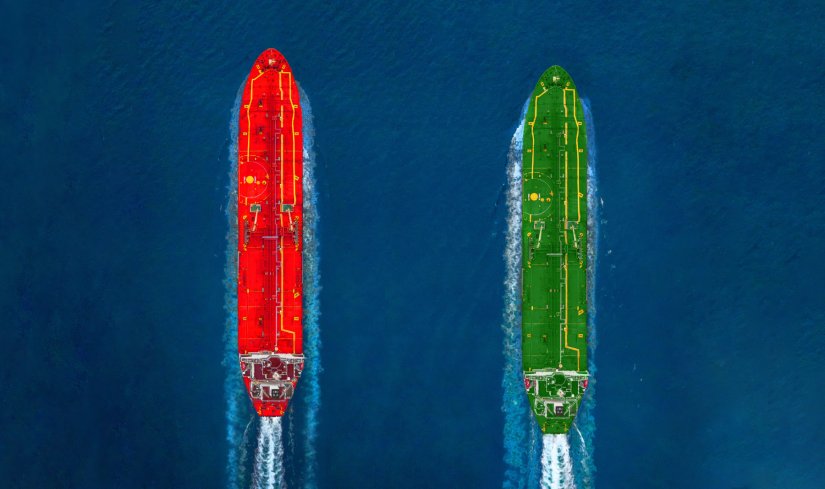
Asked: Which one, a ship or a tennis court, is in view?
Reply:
ship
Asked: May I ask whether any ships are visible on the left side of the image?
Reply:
Yes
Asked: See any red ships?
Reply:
Yes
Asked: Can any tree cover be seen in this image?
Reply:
No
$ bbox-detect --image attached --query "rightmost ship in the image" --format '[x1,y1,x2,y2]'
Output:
[522,64,592,433]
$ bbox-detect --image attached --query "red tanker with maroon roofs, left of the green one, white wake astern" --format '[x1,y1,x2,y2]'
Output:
[238,48,306,416]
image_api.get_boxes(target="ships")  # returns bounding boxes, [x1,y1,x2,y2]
[238,48,306,416]
[522,64,592,433]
